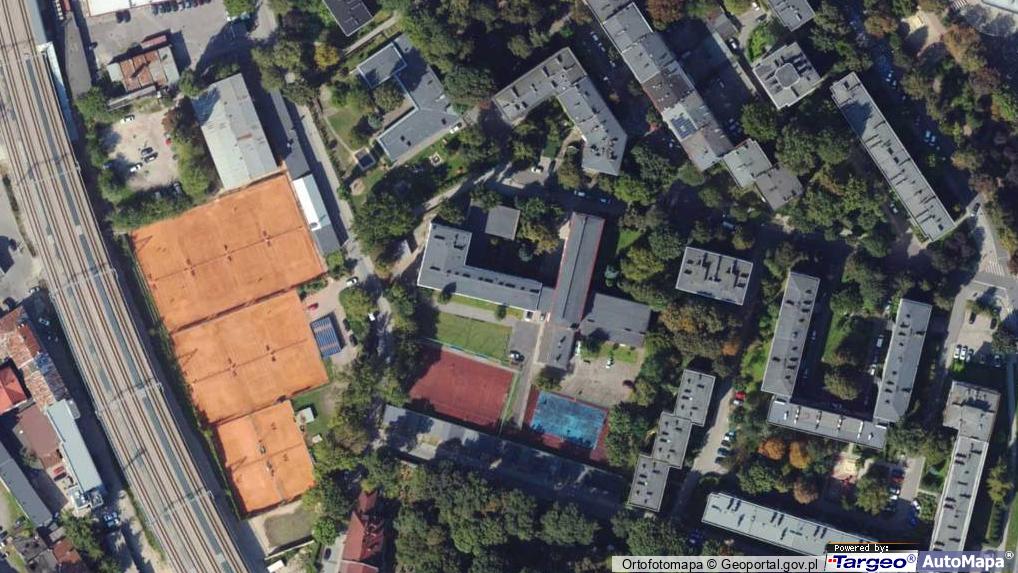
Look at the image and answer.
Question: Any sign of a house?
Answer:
Yes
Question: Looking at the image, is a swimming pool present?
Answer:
No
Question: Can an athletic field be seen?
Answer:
Yes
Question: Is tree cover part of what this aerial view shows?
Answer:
Yes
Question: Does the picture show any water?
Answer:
No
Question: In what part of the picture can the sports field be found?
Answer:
center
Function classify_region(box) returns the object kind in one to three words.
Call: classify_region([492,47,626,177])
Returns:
building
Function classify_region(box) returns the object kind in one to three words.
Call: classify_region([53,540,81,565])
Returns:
shed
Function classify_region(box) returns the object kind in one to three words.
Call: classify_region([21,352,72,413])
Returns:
house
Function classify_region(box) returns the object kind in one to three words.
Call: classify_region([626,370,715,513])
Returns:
building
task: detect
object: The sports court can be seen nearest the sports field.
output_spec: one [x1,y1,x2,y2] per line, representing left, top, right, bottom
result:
[402,339,519,429]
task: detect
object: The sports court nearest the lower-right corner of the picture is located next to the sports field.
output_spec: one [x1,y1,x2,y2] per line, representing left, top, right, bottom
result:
[519,386,609,469]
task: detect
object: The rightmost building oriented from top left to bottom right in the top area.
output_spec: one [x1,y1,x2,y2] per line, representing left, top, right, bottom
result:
[829,72,955,243]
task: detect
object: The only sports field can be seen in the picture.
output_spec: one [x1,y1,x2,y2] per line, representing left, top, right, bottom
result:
[432,309,512,364]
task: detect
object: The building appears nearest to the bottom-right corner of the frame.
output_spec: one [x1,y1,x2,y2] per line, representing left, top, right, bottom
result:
[923,437,988,573]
